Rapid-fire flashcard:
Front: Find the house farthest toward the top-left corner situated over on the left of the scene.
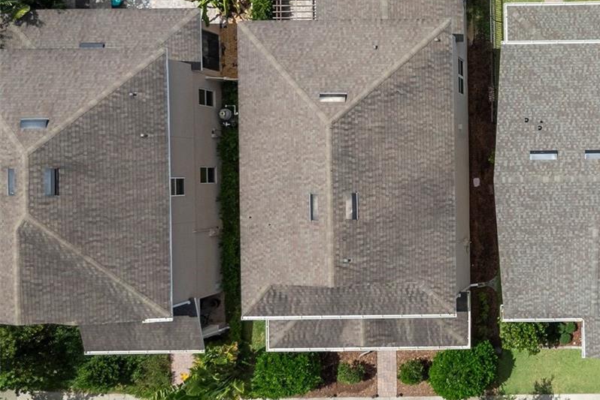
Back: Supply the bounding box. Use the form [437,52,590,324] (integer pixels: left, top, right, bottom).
[0,8,264,354]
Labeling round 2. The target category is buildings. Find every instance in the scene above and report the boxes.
[236,0,485,352]
[0,8,264,354]
[494,1,600,359]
